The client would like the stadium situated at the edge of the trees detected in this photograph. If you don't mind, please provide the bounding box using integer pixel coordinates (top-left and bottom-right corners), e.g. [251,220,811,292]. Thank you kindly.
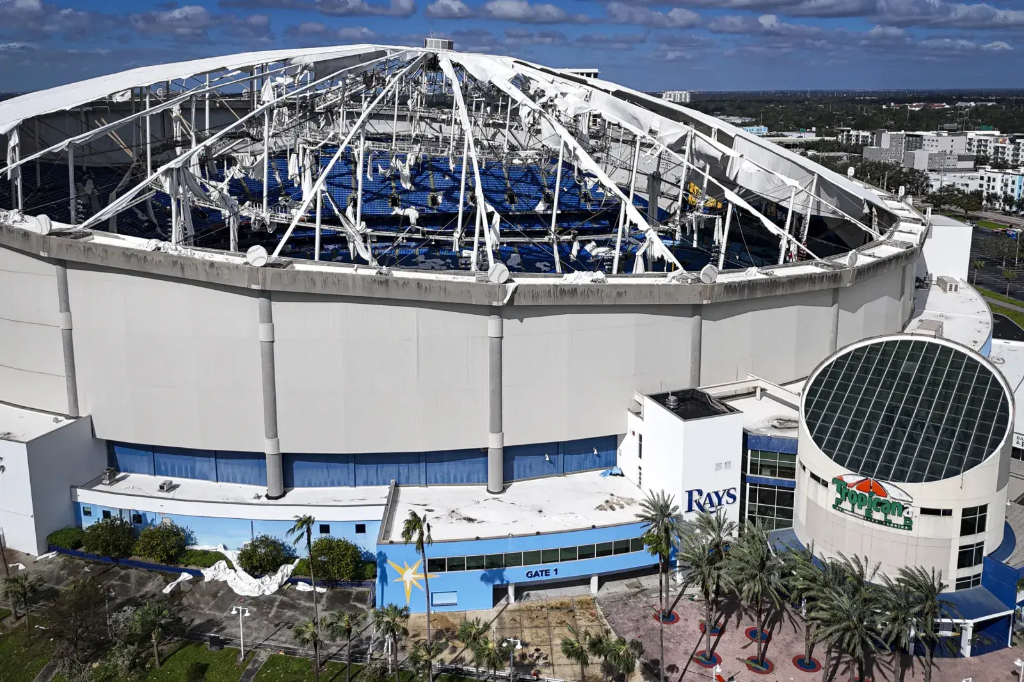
[0,27,929,501]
